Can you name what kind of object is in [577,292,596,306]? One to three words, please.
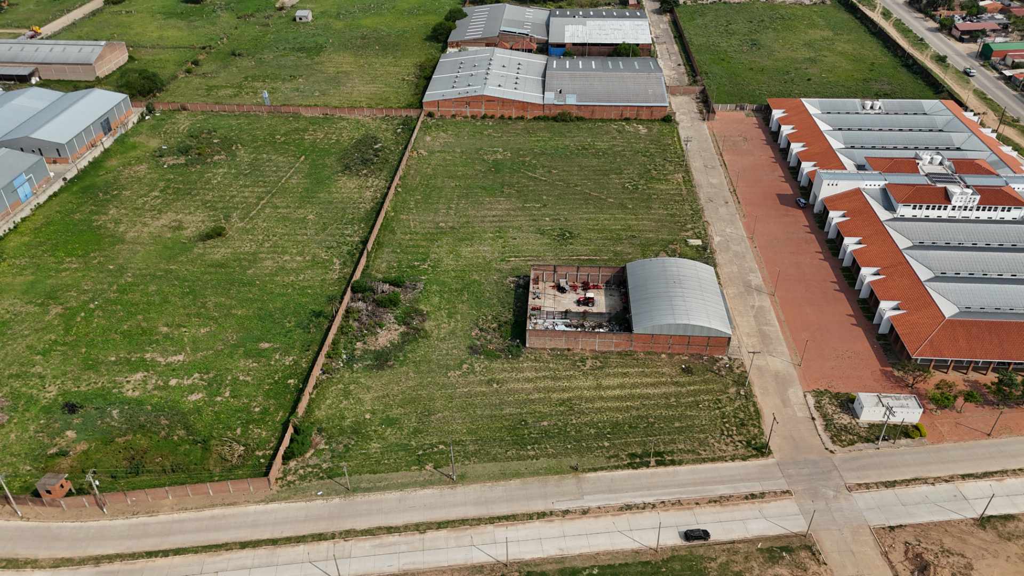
work vehicle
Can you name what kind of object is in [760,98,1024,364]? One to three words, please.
building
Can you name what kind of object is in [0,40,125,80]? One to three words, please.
building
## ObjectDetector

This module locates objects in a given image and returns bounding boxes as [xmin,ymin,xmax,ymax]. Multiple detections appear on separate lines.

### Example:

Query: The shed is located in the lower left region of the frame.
[38,470,80,495]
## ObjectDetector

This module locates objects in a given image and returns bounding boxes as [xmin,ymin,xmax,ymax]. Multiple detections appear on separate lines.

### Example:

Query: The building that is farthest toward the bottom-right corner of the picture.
[852,392,926,428]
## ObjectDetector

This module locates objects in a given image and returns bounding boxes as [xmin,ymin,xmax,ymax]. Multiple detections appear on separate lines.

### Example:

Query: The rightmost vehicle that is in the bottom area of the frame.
[682,528,711,543]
